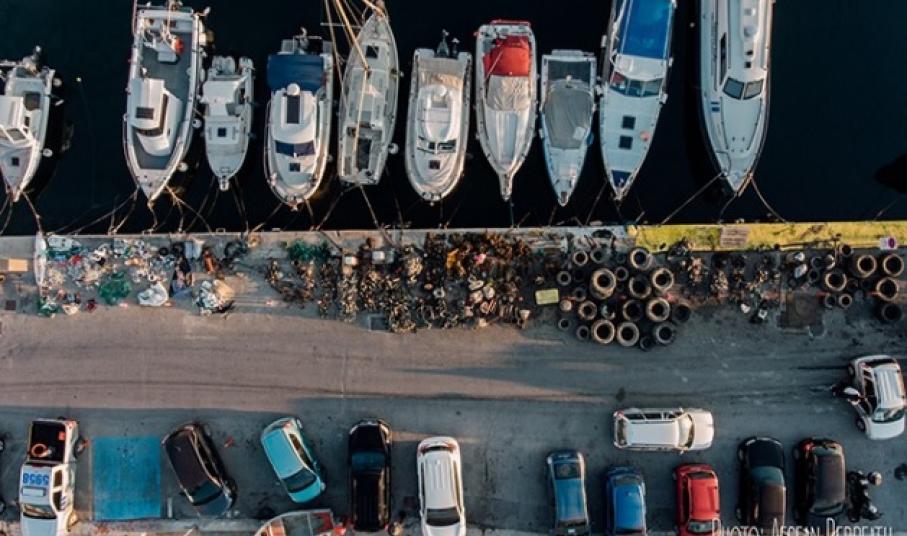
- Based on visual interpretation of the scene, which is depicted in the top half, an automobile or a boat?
boat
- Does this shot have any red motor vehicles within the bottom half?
Yes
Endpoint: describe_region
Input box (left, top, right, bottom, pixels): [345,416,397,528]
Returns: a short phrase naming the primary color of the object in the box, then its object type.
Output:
black car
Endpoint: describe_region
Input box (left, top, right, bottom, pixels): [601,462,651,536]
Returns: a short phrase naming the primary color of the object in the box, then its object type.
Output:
blue car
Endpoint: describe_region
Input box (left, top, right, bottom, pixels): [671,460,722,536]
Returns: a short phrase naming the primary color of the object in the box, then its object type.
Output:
red car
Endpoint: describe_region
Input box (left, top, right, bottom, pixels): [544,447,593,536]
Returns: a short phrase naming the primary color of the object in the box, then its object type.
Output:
blue car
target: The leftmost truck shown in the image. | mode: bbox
[23,417,85,535]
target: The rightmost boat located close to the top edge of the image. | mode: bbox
[693,0,774,195]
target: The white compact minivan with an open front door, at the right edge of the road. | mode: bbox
[841,352,907,440]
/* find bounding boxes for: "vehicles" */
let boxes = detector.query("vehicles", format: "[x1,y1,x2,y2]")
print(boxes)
[671,460,722,536]
[735,434,791,536]
[601,462,651,536]
[265,415,323,502]
[166,416,236,514]
[790,435,849,534]
[345,416,397,528]
[841,352,907,440]
[23,417,85,535]
[609,403,714,456]
[416,432,469,536]
[544,447,593,536]
[845,473,888,523]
